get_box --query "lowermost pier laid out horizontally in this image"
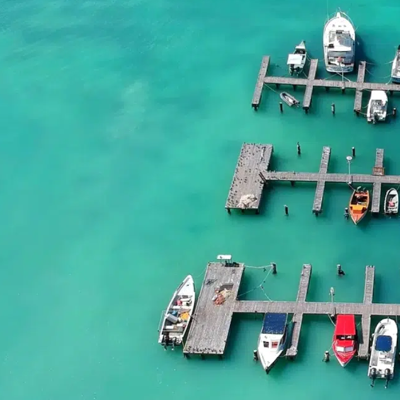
[234,301,400,320]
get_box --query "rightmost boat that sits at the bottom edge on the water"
[370,315,400,388]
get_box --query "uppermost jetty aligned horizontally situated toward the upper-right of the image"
[264,76,400,94]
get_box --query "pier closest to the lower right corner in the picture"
[359,315,372,363]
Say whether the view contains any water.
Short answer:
Yes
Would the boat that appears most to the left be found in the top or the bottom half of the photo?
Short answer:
bottom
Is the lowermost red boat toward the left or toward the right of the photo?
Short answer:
right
